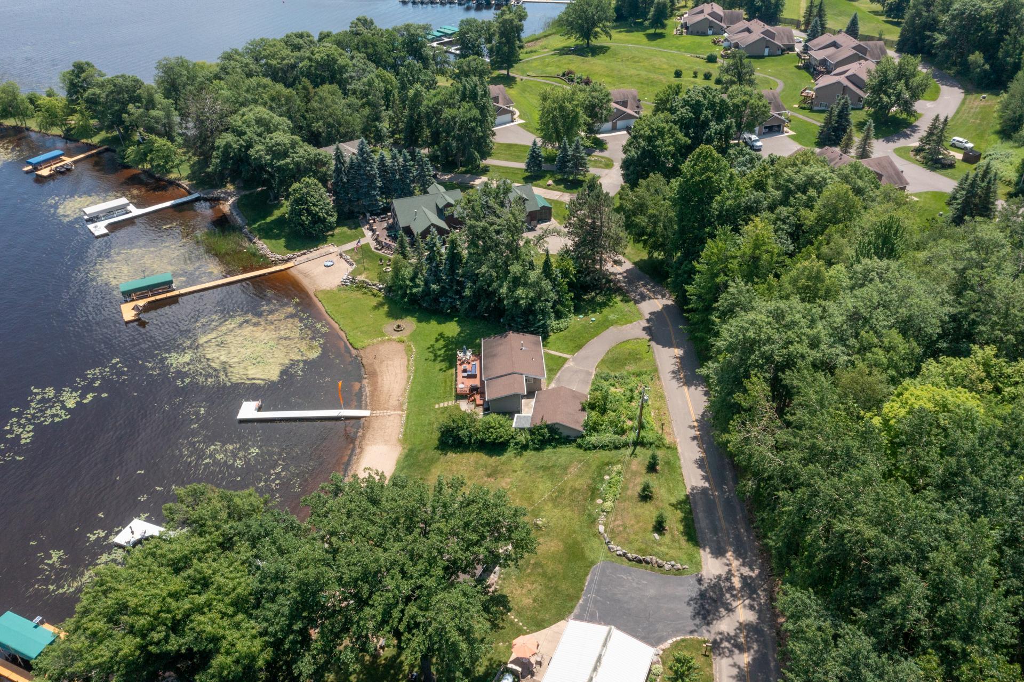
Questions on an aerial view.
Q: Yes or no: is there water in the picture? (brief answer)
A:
Yes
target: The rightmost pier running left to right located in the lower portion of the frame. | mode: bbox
[237,402,371,422]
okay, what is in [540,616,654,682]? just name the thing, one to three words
building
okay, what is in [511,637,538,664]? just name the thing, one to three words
umbrella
